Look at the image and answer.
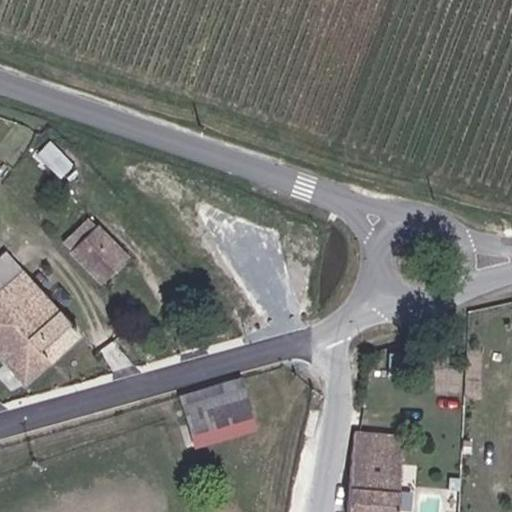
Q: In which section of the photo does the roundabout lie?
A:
right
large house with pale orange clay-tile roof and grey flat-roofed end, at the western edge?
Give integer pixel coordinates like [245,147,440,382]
[0,250,83,392]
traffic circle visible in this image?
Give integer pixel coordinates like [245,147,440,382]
[311,184,512,364]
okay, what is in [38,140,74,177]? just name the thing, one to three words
house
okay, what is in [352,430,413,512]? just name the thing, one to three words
house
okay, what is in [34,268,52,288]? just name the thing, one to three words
car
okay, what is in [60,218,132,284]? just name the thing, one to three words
barn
